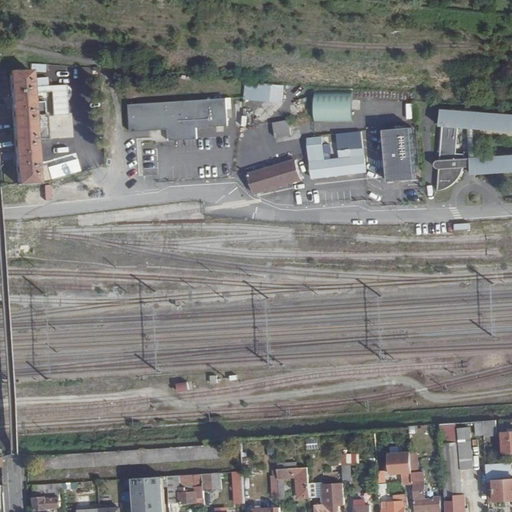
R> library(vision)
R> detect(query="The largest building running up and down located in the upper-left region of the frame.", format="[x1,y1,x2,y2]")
[11,70,46,183]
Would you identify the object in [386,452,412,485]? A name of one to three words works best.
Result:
house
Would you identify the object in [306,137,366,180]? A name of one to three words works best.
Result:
building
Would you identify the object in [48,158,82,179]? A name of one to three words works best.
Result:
building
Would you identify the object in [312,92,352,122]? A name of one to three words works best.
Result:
hangar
